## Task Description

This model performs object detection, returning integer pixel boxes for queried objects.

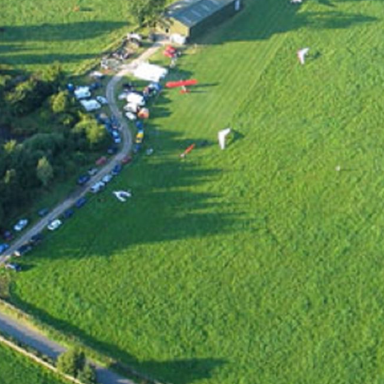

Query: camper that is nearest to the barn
[169,34,186,47]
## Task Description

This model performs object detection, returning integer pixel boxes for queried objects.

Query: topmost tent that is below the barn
[133,60,172,83]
